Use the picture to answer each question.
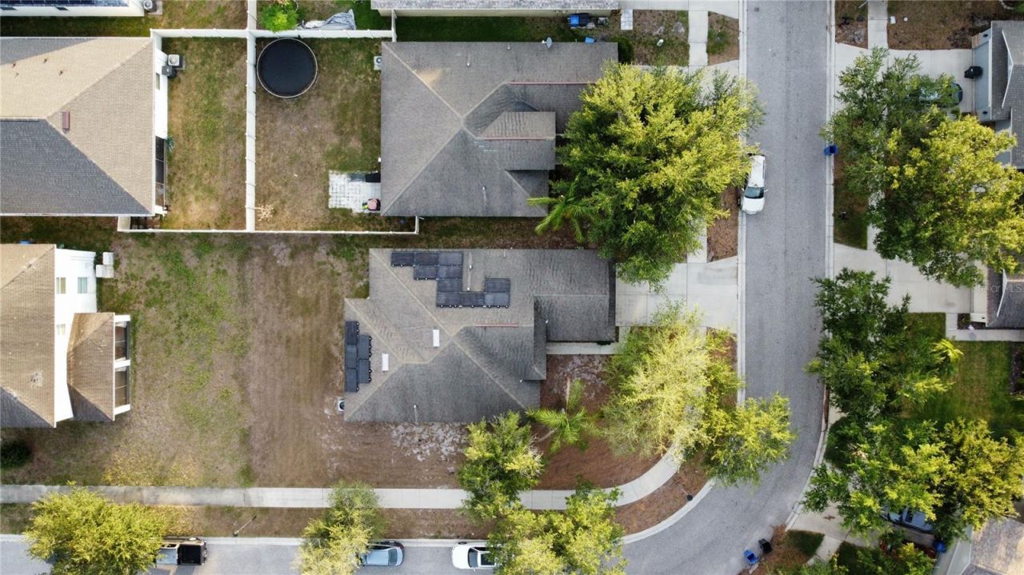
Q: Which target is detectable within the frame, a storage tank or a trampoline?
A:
trampoline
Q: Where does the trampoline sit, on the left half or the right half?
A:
left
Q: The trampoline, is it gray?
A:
No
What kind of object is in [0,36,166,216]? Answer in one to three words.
house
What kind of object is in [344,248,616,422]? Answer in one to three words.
house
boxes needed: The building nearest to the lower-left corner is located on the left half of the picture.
[0,243,130,427]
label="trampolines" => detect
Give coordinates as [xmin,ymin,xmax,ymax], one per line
[258,39,319,100]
